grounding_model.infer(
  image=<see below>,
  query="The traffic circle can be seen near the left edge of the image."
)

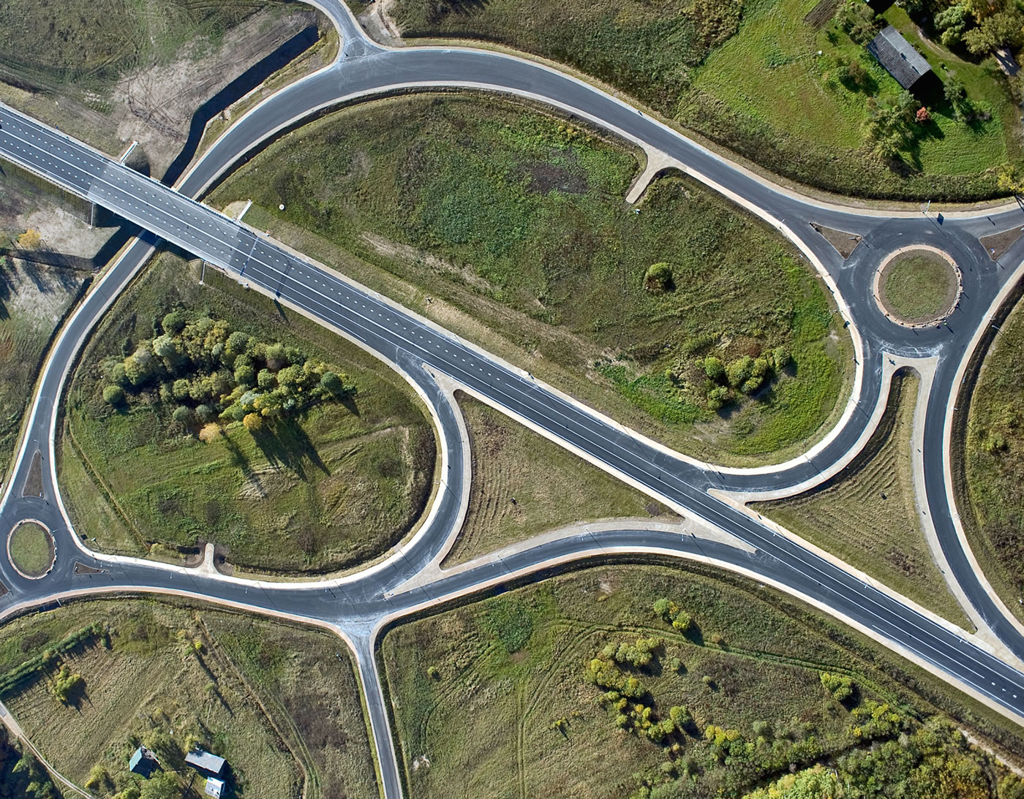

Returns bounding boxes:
[6,519,57,581]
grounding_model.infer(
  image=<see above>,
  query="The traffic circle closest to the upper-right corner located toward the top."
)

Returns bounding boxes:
[873,245,965,327]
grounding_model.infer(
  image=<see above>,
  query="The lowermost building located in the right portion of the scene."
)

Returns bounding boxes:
[865,25,931,90]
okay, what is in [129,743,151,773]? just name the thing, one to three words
house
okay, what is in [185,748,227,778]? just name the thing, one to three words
shed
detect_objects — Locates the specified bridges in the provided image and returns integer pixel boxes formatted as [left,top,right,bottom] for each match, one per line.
[87,163,250,274]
